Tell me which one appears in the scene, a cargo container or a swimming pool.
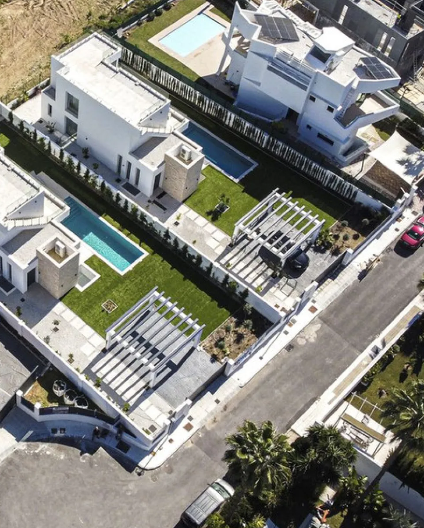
swimming pool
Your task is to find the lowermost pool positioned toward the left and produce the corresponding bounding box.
[60,192,148,275]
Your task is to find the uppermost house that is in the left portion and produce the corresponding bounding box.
[41,26,220,203]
